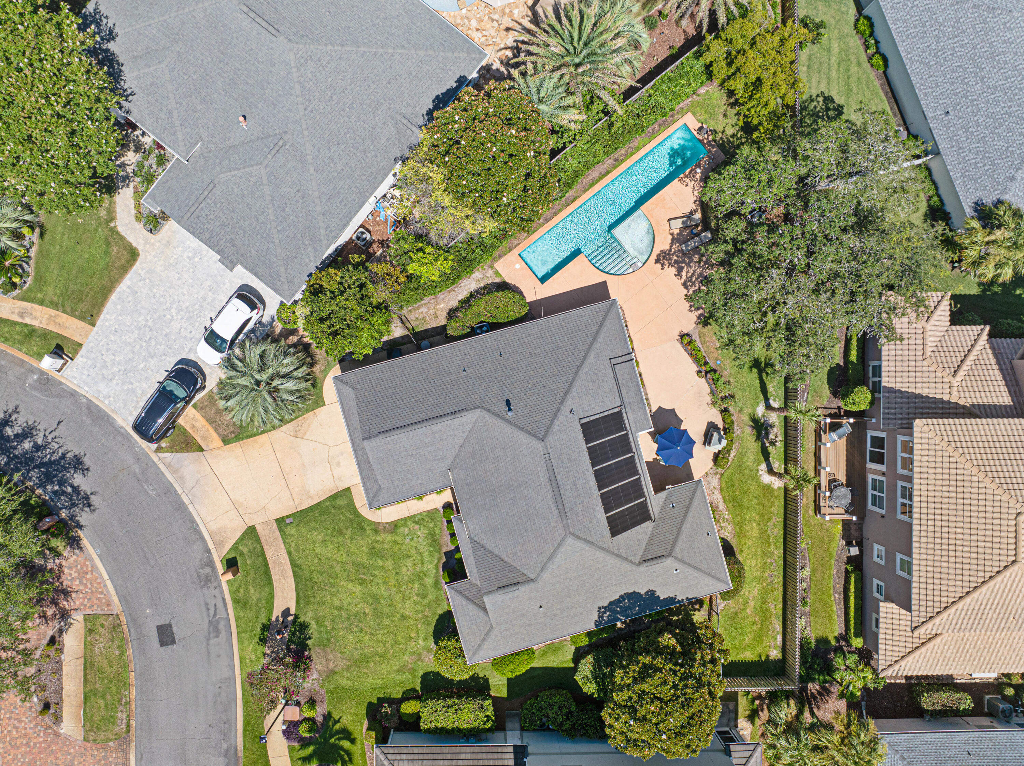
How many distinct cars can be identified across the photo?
2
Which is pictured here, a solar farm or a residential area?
residential area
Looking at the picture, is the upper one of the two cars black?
No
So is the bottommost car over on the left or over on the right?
left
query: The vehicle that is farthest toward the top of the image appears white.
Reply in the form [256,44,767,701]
[192,287,267,369]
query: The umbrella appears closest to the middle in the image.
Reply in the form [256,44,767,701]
[657,427,696,467]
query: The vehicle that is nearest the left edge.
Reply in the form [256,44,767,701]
[126,361,209,450]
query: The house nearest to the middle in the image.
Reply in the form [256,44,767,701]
[329,296,734,667]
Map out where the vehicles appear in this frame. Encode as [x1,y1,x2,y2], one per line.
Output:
[192,287,267,369]
[126,361,209,450]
